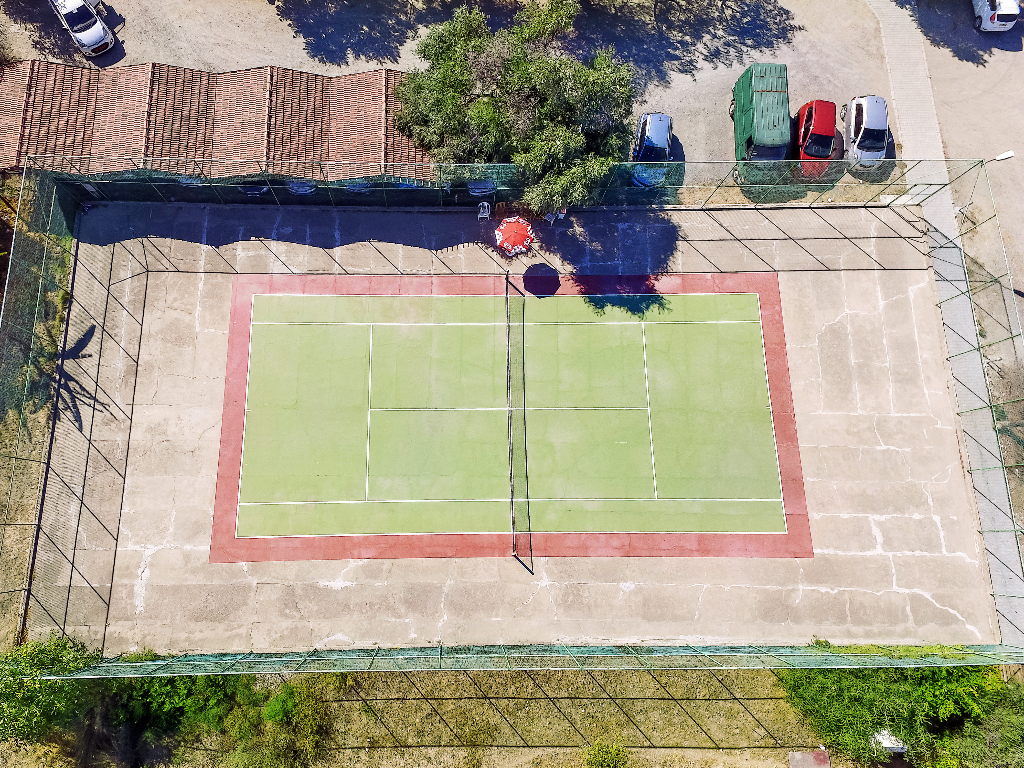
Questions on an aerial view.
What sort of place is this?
sports ground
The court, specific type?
tennis court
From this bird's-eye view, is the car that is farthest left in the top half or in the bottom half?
top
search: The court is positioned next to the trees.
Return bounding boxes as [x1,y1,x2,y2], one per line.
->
[16,200,1004,657]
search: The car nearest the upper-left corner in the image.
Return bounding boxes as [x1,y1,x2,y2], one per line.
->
[50,0,120,56]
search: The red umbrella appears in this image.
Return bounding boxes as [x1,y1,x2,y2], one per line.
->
[495,217,535,255]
